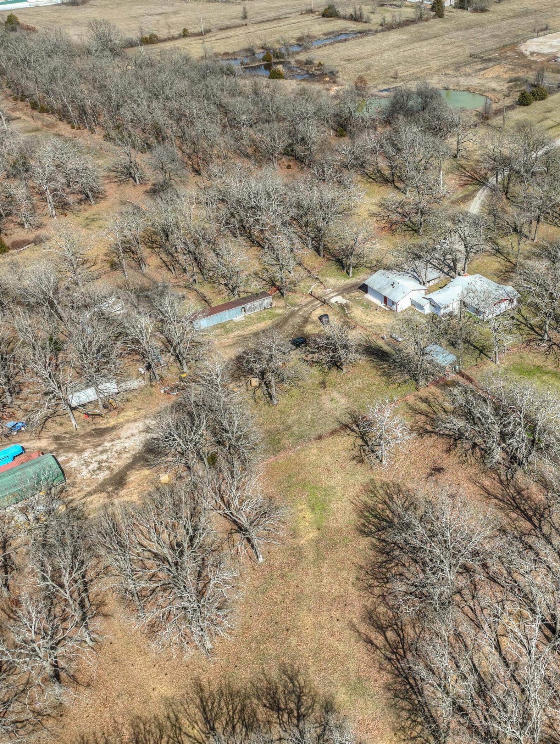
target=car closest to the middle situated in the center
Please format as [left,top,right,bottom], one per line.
[285,333,312,346]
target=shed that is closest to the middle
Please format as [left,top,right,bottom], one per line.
[185,288,273,329]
